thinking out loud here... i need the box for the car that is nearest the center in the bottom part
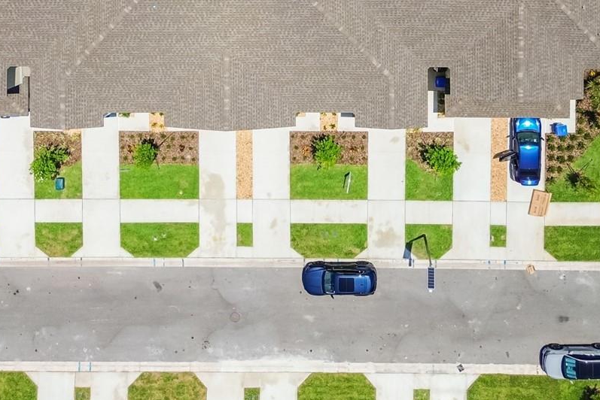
[304,262,376,301]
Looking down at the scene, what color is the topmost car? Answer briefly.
blue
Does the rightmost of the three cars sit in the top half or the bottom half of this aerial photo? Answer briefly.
bottom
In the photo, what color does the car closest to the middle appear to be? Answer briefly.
blue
